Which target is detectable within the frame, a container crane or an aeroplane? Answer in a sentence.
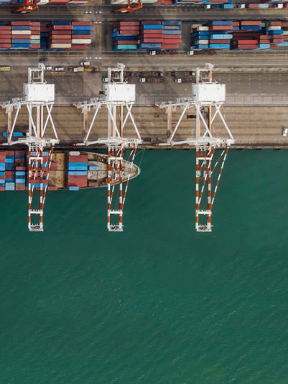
Visible in the photo is a container crane.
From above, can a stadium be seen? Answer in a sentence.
No, I find no stadium anywhere in the image.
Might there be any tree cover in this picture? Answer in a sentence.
No, there is no tree cover in the image.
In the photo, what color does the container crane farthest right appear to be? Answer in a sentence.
The container crane farthest right is white.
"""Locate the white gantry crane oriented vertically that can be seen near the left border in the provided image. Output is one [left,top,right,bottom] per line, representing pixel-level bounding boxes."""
[0,63,59,232]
